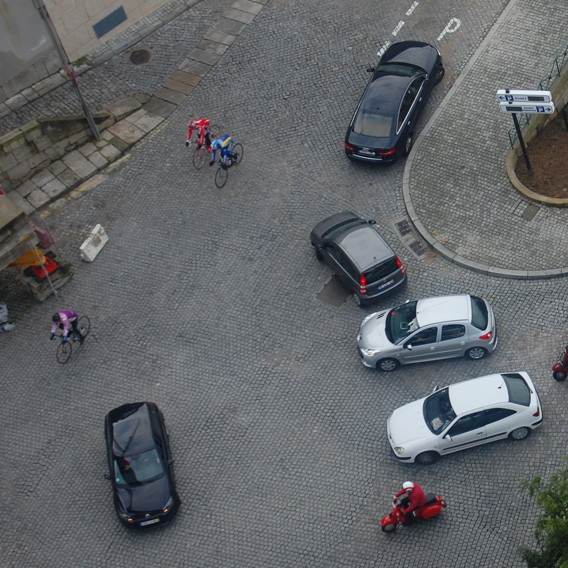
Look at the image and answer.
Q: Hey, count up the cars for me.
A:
5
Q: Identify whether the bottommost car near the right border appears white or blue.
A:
white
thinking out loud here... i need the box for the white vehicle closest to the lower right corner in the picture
[386,371,542,466]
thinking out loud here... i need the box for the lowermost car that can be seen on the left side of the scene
[100,394,180,524]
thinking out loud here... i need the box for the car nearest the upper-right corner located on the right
[343,47,444,166]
